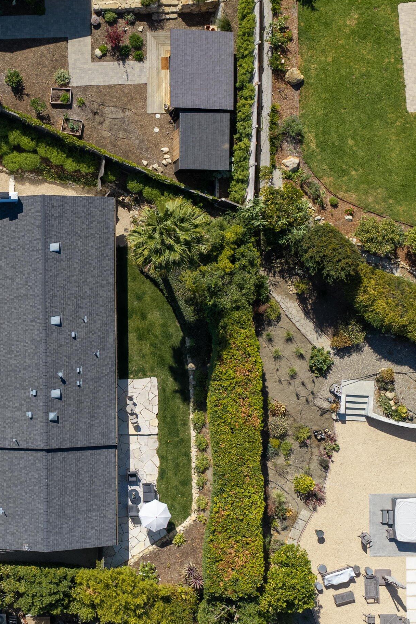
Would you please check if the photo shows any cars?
No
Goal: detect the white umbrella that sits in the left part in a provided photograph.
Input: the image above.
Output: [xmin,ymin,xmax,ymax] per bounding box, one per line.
[138,500,170,532]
